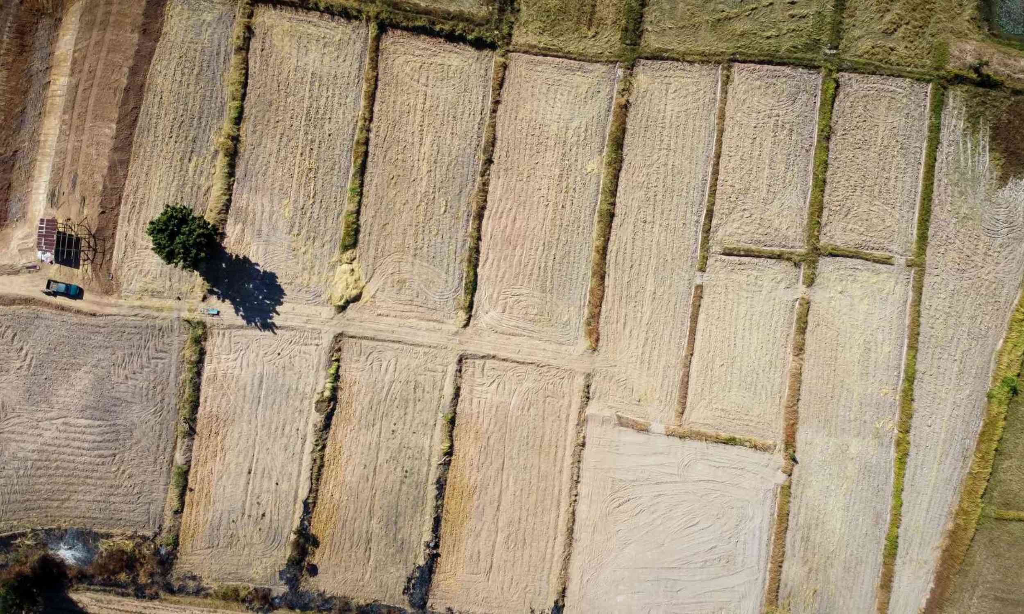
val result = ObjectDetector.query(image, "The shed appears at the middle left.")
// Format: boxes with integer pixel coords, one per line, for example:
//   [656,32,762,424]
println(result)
[37,219,92,267]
